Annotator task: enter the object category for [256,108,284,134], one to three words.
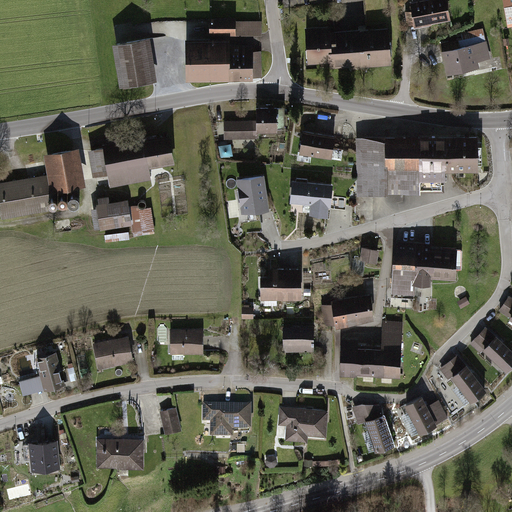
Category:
house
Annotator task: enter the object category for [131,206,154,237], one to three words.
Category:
shed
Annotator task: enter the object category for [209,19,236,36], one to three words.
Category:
building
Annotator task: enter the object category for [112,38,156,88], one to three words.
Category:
barn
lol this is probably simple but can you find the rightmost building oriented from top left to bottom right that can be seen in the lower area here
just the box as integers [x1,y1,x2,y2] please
[470,327,512,375]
